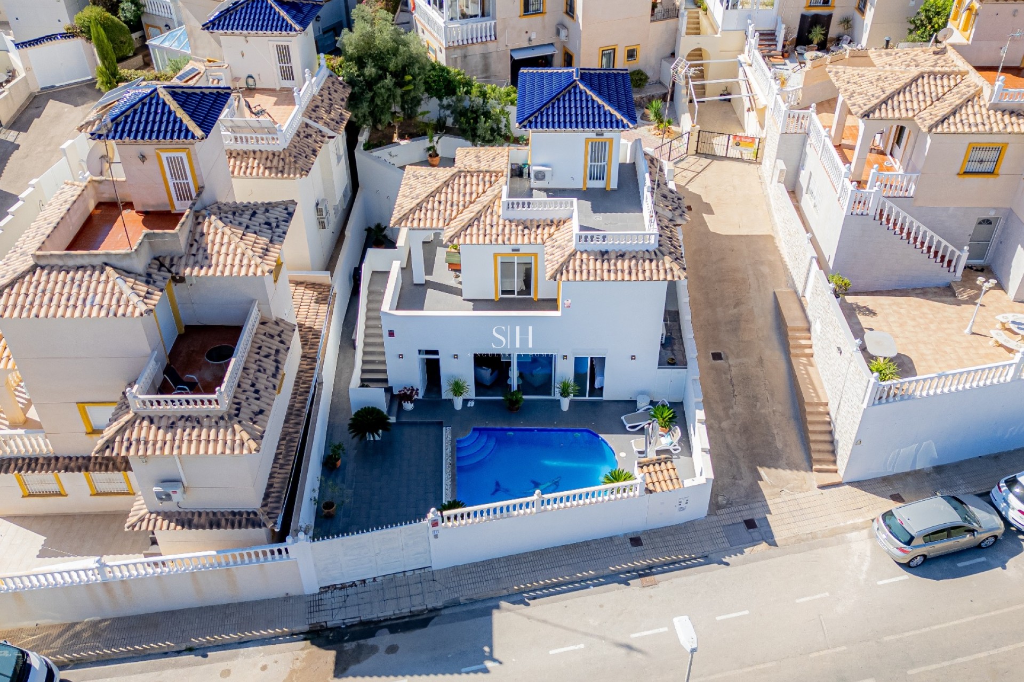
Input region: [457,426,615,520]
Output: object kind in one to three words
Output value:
swimming pool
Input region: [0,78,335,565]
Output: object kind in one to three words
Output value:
house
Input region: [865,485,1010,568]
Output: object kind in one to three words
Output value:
car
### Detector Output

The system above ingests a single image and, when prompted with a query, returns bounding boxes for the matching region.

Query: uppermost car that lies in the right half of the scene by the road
[986,465,1024,526]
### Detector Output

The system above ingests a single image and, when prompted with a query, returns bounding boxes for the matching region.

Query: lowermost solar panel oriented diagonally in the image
[83,78,145,125]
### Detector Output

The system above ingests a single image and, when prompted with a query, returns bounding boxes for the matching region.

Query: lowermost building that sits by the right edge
[781,45,1024,289]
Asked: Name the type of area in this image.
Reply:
residential area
